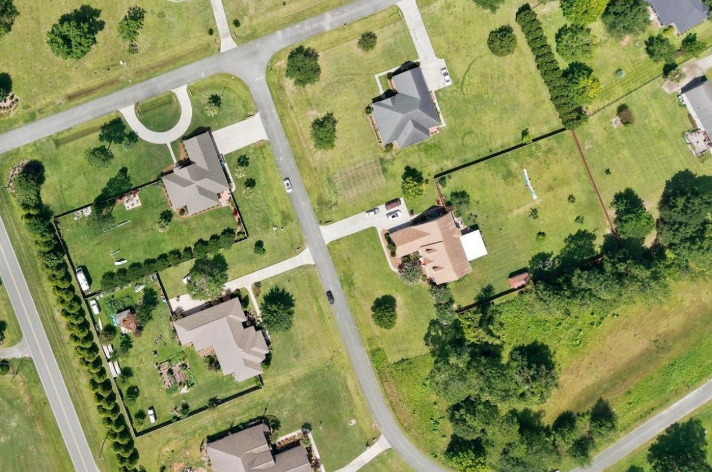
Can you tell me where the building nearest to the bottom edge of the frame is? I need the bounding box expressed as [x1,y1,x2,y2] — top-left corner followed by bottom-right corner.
[207,422,311,472]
